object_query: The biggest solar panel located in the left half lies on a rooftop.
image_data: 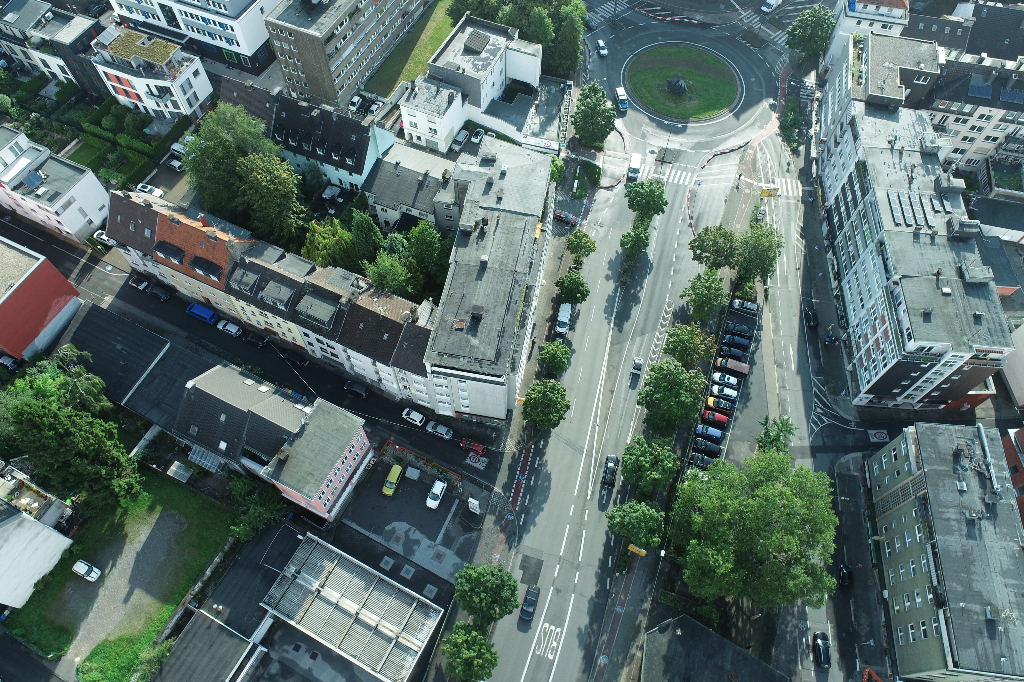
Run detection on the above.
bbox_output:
[22,164,42,180]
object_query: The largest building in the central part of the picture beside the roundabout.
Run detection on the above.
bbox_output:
[425,132,560,418]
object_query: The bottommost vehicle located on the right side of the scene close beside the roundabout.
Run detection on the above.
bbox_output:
[628,149,643,177]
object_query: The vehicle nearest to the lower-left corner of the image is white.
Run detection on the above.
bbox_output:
[71,561,103,581]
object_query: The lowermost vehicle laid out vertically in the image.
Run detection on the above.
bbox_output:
[812,632,831,669]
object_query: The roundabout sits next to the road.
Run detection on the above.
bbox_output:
[589,23,777,154]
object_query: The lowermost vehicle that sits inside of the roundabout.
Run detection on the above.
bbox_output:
[616,88,628,110]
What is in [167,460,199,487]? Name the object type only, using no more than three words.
shed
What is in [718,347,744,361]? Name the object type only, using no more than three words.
vehicle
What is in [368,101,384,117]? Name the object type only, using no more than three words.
car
